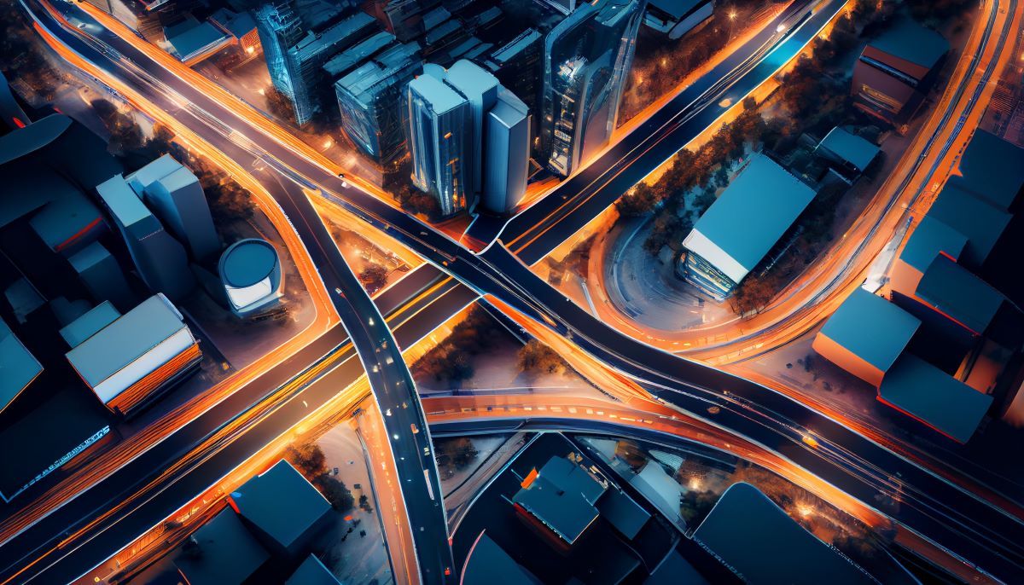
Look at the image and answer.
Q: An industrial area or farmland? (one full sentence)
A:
The picture captures an industrial area.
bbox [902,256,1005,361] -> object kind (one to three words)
building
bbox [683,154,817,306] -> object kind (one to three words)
building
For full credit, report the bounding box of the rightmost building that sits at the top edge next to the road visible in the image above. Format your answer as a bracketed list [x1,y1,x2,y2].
[847,16,950,117]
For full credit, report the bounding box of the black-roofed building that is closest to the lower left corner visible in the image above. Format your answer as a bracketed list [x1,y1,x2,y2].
[0,380,122,514]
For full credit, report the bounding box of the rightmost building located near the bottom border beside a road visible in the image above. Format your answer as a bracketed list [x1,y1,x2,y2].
[685,484,876,585]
